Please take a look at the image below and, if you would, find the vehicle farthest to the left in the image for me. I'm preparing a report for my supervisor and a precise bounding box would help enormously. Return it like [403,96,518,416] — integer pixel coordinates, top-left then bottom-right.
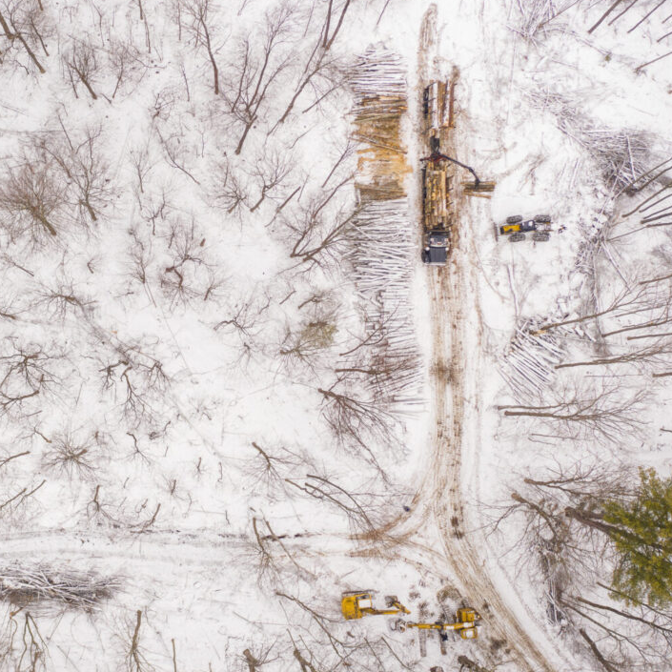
[339,587,411,621]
